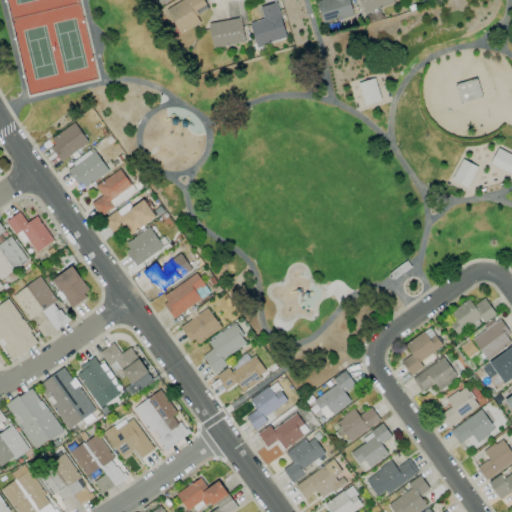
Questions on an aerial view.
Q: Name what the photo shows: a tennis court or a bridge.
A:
tennis court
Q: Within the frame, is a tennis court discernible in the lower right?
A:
No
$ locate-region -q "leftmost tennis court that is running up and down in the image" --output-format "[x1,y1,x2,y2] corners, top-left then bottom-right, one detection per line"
[24,25,59,80]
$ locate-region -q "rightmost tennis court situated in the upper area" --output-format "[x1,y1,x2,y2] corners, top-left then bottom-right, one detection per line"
[54,18,88,73]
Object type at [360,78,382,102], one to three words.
building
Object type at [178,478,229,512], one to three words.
house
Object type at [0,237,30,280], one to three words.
house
